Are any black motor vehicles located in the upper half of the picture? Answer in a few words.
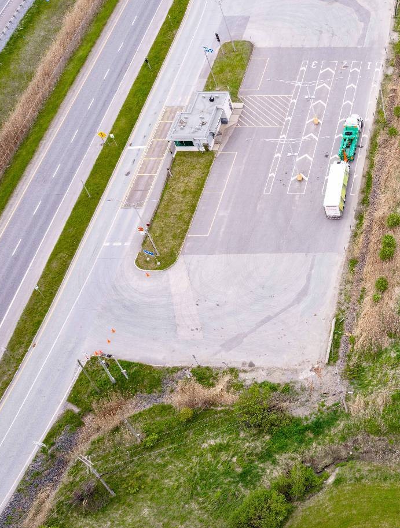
No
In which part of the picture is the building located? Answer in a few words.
top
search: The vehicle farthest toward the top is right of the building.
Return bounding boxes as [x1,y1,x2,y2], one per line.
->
[340,116,361,168]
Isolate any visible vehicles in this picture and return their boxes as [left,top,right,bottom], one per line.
[325,163,348,218]
[340,116,361,168]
